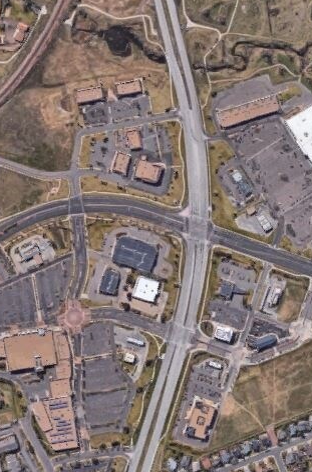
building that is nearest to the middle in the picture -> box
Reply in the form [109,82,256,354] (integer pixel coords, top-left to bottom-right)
[112,237,160,273]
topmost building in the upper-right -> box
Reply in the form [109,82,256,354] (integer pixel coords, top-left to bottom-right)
[217,96,282,127]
